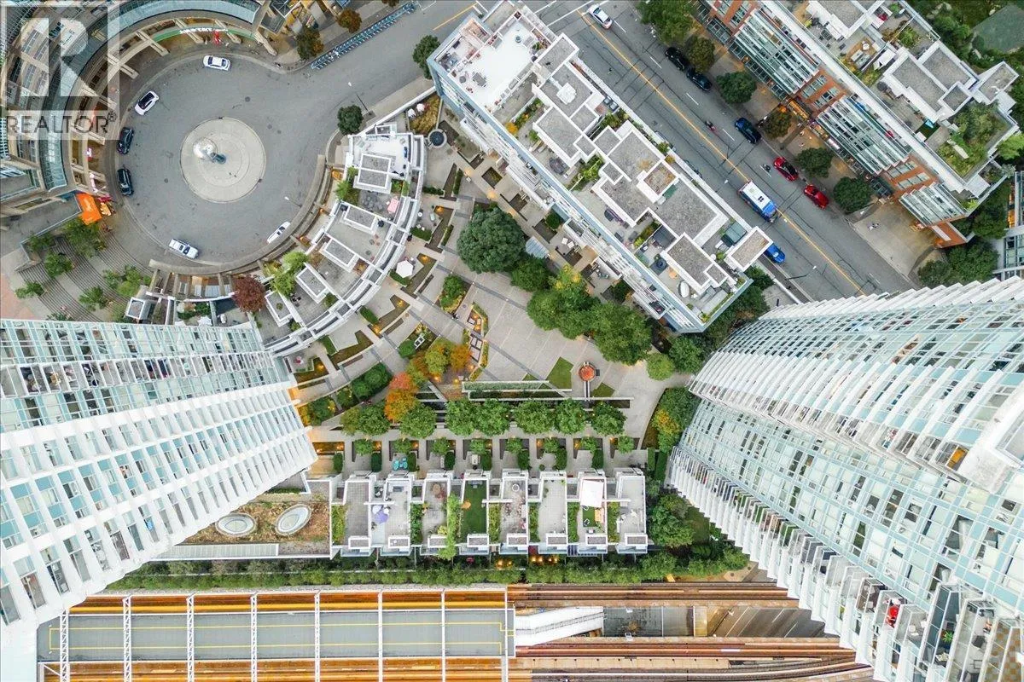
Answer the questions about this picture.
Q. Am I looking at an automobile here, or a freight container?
automobile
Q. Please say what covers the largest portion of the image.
buildings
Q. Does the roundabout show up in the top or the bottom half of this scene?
top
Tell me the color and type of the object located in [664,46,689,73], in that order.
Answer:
black car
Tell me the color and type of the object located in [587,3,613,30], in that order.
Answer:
white car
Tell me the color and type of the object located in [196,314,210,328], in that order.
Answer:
white umbrella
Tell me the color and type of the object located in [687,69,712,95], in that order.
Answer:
black car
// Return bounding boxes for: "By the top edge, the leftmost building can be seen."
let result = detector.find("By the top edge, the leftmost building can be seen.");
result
[0,0,313,258]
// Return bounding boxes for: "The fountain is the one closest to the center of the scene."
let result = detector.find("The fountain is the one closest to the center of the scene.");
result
[577,361,600,400]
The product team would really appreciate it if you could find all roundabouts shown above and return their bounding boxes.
[120,57,325,262]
